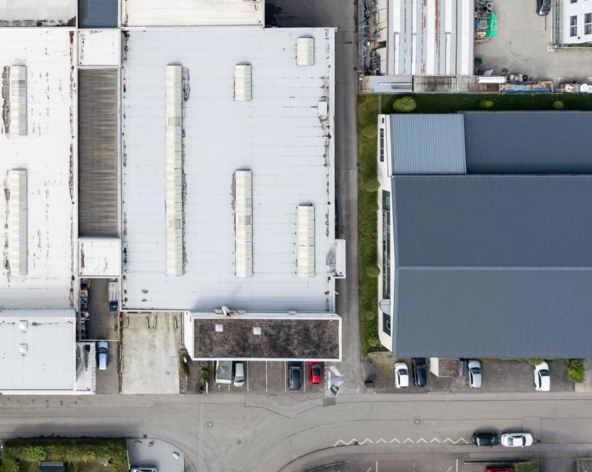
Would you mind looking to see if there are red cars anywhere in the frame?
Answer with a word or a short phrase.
Yes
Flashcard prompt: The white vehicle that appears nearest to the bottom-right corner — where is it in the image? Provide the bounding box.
[499,431,534,448]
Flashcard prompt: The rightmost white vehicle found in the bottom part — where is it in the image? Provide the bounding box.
[531,359,552,394]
